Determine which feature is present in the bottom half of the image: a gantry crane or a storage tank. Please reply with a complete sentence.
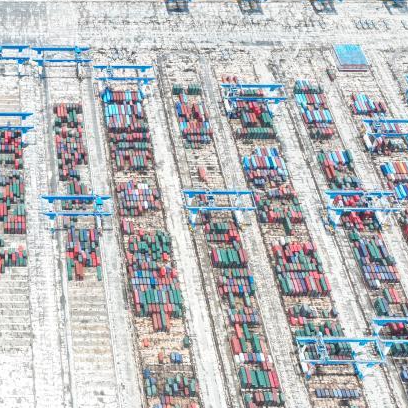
You can see a gantry crane in the bottom half of the image.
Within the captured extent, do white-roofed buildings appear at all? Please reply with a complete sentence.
No, no white-roofed building is visible in the view.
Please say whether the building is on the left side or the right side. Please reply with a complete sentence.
You can find the building on the right side of the picture.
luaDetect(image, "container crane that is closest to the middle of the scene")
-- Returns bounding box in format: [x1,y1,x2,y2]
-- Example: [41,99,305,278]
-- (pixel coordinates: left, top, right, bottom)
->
[179,187,255,233]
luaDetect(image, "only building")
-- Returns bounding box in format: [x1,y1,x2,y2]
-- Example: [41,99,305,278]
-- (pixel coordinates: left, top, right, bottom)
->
[331,46,370,70]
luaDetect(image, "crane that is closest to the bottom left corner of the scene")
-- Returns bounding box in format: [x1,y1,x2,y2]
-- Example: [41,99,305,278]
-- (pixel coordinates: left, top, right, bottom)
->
[40,194,114,238]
